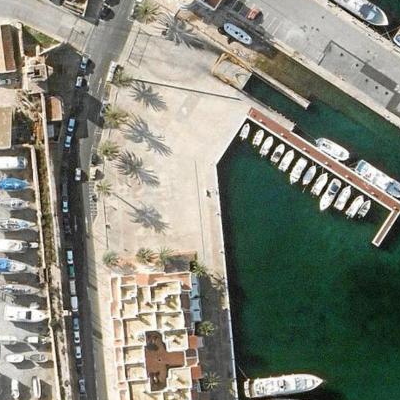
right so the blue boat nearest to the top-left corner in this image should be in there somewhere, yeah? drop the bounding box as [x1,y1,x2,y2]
[0,175,29,192]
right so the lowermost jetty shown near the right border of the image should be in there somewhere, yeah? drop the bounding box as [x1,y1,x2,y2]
[247,108,400,246]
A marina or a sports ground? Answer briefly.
marina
